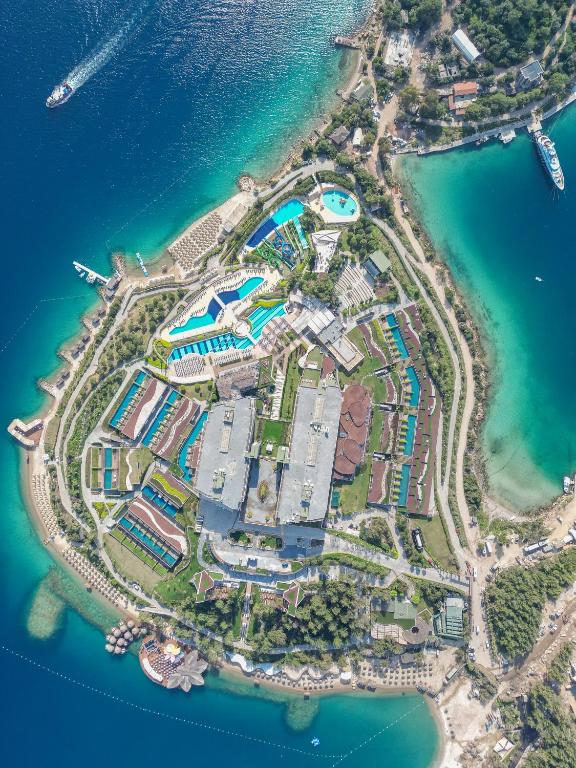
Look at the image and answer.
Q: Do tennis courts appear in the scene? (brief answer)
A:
No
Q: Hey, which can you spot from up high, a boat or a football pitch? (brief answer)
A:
boat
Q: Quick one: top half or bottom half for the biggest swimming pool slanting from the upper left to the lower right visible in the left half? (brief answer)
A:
bottom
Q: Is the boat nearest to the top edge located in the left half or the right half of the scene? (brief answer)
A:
left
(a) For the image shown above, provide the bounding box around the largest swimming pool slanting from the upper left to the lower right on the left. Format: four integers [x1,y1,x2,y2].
[119,514,178,566]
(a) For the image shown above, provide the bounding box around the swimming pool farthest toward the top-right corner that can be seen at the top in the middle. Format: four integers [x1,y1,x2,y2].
[322,189,357,216]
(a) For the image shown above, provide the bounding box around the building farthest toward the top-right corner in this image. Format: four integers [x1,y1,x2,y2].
[515,60,544,88]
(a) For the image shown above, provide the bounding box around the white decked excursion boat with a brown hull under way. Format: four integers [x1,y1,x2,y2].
[45,81,73,107]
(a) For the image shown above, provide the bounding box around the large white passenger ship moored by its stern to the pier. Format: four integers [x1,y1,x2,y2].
[534,126,566,188]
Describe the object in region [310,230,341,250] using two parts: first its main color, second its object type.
white tent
